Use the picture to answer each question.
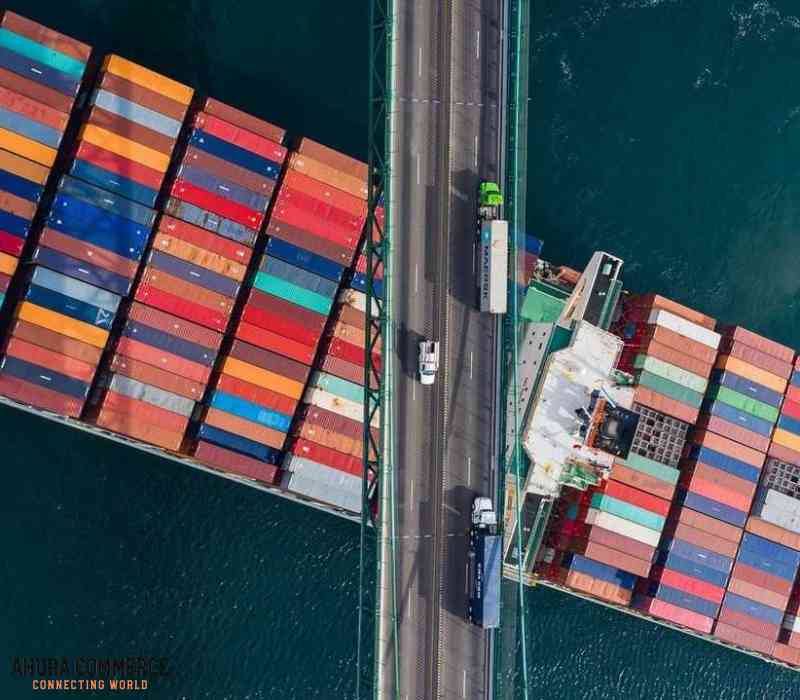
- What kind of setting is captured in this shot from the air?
port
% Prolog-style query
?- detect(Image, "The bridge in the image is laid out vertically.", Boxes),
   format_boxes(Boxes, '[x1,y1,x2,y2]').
[359,0,531,700]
